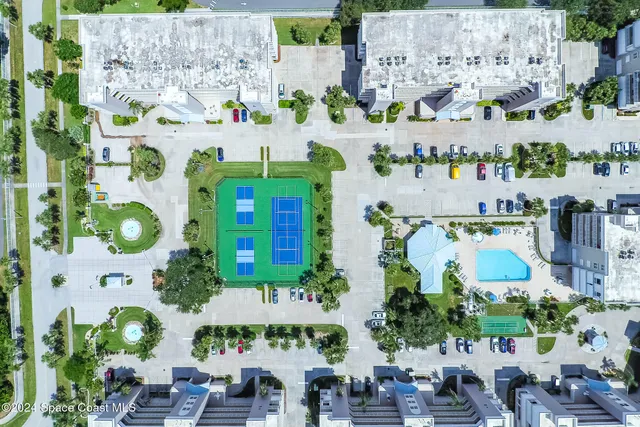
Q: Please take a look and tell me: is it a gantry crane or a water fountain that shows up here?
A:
water fountain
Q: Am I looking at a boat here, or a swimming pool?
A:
swimming pool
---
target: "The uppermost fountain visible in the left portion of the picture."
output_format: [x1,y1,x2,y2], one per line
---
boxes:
[119,218,142,241]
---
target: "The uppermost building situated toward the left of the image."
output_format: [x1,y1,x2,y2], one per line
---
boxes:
[73,8,279,124]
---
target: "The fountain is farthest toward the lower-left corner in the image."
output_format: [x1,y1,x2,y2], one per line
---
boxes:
[121,321,144,343]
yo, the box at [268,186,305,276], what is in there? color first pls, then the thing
blue tennis court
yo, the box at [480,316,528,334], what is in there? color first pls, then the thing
green sports court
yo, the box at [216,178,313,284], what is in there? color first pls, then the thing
green sports court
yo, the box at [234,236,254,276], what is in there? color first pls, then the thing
blue sports court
